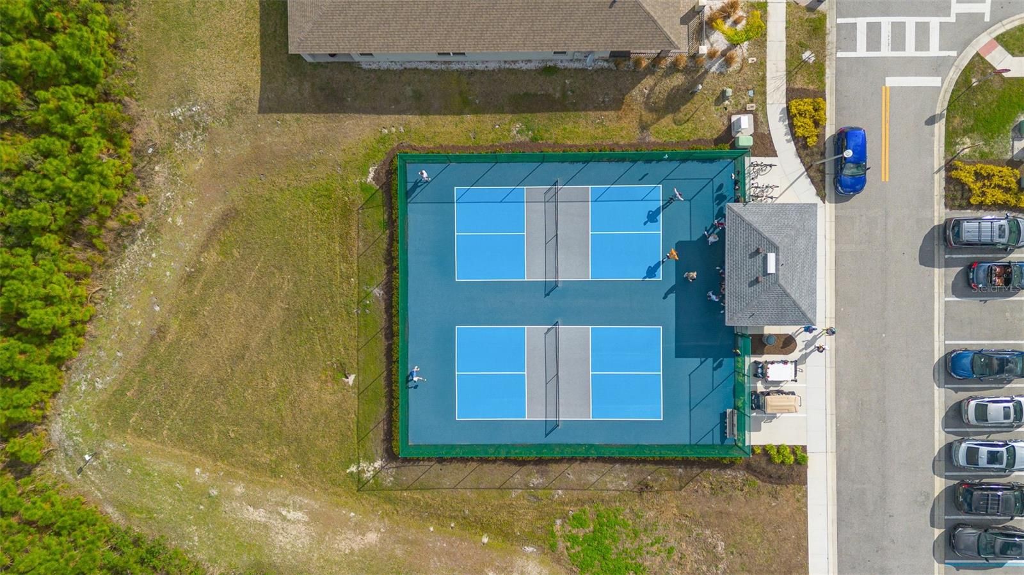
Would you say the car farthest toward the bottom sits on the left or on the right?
right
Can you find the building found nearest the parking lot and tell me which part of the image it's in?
right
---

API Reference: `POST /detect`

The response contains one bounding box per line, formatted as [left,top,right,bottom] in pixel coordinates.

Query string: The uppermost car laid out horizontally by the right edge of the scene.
[940,213,1024,251]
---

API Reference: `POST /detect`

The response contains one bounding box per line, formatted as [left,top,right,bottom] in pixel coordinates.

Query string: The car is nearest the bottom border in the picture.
[948,524,1024,564]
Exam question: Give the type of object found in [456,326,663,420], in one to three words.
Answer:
sports court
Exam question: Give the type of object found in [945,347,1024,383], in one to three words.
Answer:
car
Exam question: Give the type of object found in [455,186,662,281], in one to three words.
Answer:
sports court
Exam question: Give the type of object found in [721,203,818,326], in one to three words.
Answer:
building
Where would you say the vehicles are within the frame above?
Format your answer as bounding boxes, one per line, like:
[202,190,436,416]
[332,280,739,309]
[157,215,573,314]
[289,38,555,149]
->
[831,125,871,196]
[959,394,1024,430]
[948,524,1024,564]
[964,259,1024,295]
[940,213,1024,251]
[945,347,1024,383]
[951,481,1024,520]
[754,390,803,413]
[949,438,1024,475]
[756,360,801,383]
